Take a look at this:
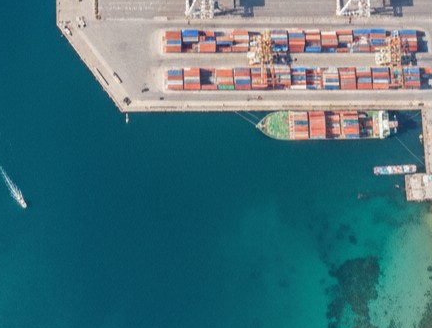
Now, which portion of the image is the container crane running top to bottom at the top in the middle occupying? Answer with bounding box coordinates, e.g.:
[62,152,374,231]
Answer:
[247,28,275,96]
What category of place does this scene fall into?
port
